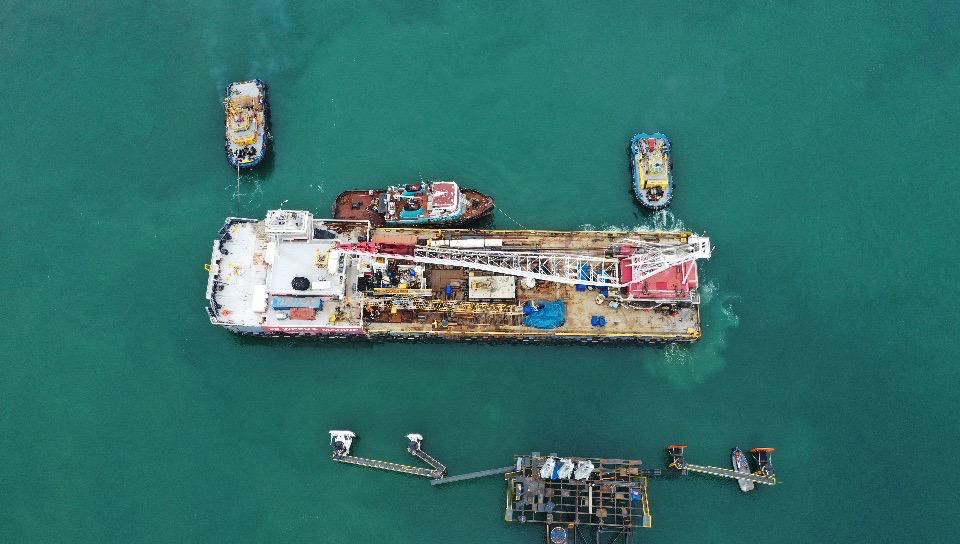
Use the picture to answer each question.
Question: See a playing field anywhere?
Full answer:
No, there's no playing field here.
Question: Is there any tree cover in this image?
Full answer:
No, there's no tree cover in this view.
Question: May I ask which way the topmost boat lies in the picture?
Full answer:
I'd say the topmost boat is aligned vertically in the picture.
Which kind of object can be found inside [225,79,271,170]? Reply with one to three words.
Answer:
boat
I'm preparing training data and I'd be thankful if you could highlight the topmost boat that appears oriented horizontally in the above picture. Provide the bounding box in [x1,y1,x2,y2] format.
[332,181,495,230]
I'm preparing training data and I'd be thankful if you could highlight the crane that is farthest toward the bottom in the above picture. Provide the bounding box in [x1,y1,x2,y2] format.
[335,234,713,305]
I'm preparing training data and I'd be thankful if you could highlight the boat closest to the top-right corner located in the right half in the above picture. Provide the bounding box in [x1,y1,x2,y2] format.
[629,132,675,212]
